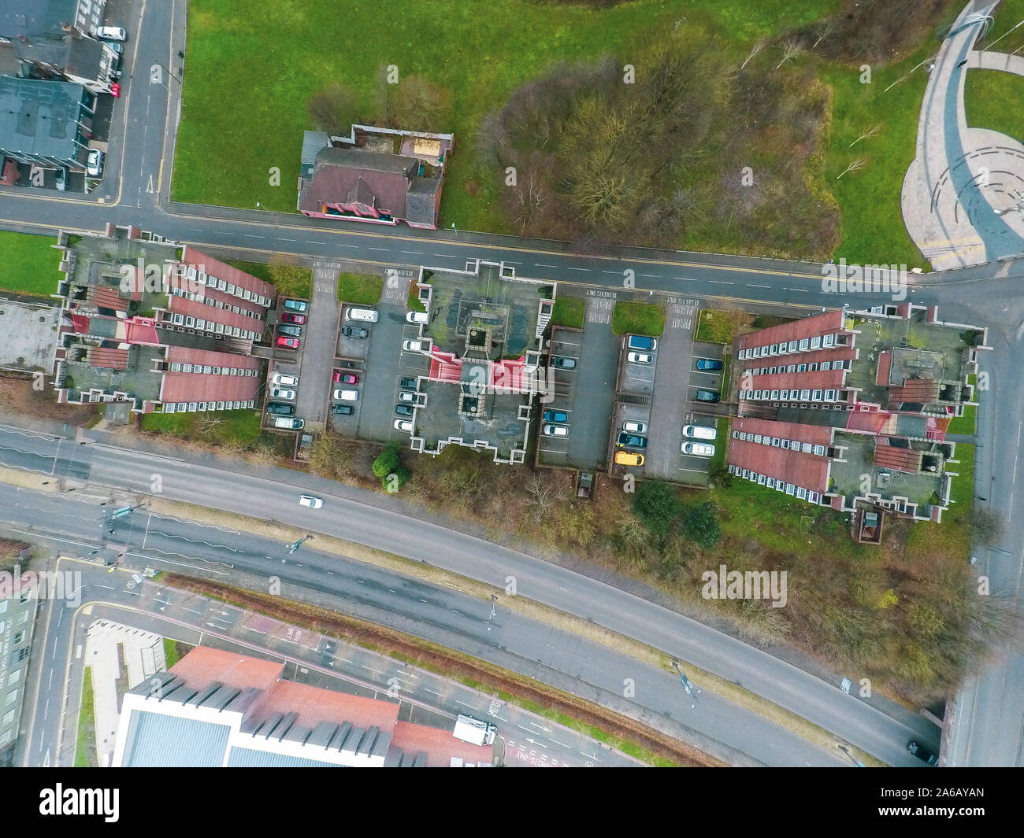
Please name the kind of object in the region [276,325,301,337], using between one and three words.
vehicle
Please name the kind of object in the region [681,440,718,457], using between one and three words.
vehicle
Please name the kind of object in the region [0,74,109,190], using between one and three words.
building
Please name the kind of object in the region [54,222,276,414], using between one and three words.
building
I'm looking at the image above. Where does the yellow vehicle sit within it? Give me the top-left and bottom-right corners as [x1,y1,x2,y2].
[615,452,645,468]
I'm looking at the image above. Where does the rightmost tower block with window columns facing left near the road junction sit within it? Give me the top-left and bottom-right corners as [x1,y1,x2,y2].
[723,299,988,524]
